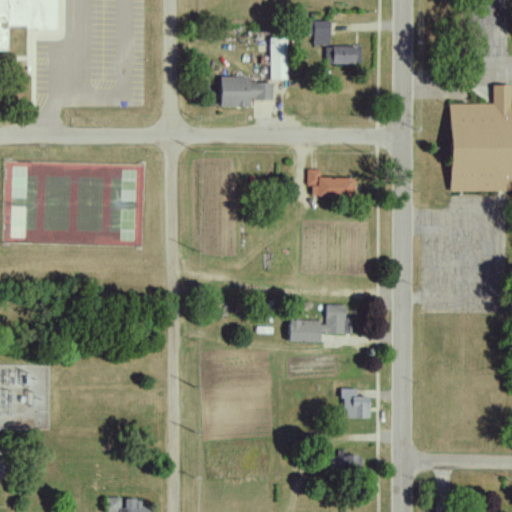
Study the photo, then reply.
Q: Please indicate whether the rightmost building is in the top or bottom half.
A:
top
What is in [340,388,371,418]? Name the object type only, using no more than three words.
house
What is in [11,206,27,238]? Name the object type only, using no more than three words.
sports court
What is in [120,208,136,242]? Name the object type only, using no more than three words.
sports court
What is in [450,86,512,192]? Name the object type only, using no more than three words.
building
